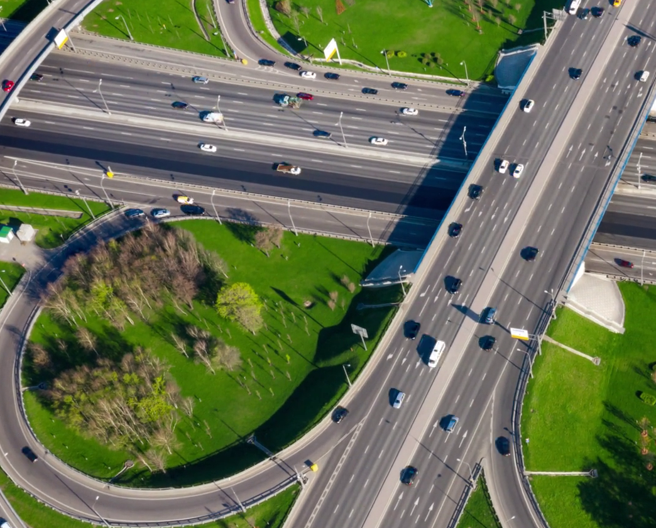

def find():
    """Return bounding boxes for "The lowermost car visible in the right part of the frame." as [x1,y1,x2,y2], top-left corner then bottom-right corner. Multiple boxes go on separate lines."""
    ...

[403,467,417,486]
